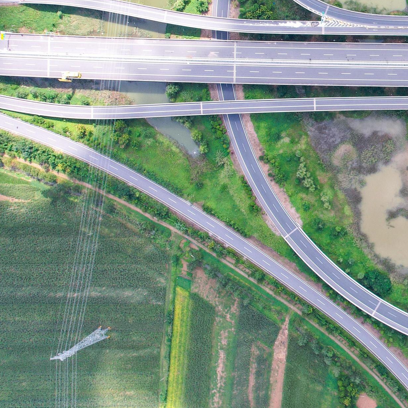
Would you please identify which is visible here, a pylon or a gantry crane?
pylon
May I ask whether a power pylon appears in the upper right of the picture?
No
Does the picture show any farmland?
Yes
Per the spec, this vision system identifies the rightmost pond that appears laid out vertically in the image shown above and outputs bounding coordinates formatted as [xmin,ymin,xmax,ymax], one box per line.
[349,115,408,269]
